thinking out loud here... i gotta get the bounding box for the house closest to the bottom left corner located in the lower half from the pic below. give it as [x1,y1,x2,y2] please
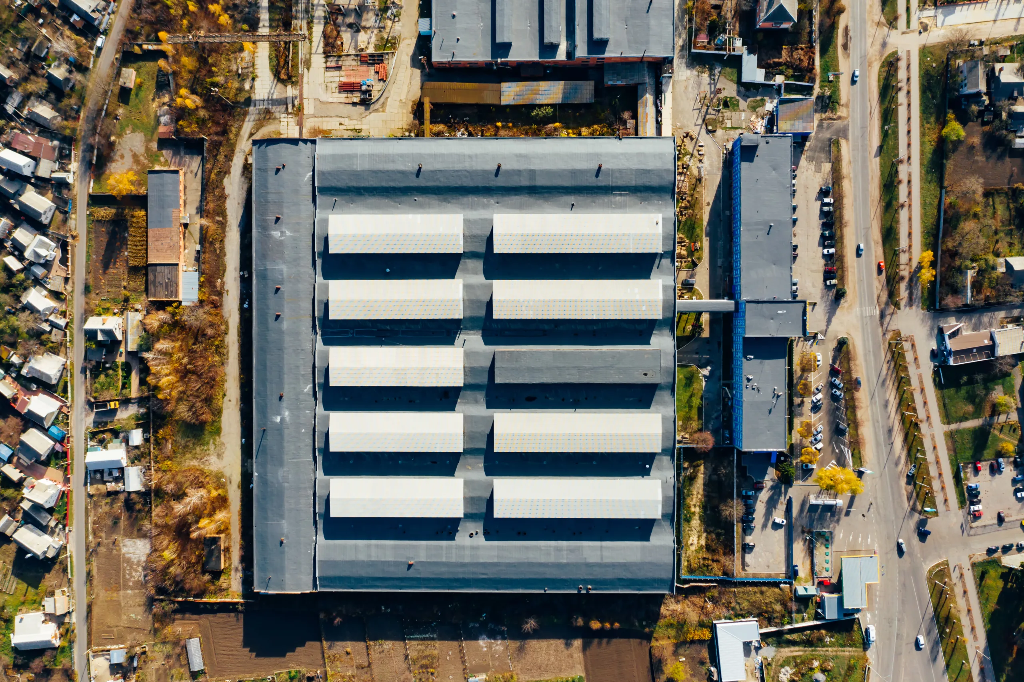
[11,610,65,652]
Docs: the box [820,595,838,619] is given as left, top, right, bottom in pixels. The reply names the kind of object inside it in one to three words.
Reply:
building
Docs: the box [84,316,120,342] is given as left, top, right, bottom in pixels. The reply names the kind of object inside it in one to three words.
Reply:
house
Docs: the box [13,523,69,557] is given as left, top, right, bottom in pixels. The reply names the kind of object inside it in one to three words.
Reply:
house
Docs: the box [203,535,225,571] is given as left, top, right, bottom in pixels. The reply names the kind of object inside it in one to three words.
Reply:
shed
